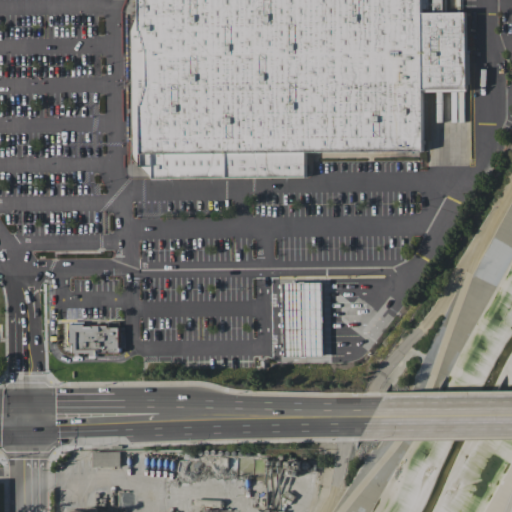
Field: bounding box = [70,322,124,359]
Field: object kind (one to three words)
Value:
building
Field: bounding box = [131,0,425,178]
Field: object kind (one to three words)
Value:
building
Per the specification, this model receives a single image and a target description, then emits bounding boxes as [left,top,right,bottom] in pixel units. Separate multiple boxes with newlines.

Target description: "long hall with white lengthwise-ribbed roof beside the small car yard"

[285,283,324,357]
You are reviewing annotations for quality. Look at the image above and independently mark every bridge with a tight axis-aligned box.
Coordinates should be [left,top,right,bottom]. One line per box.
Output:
[336,386,512,448]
